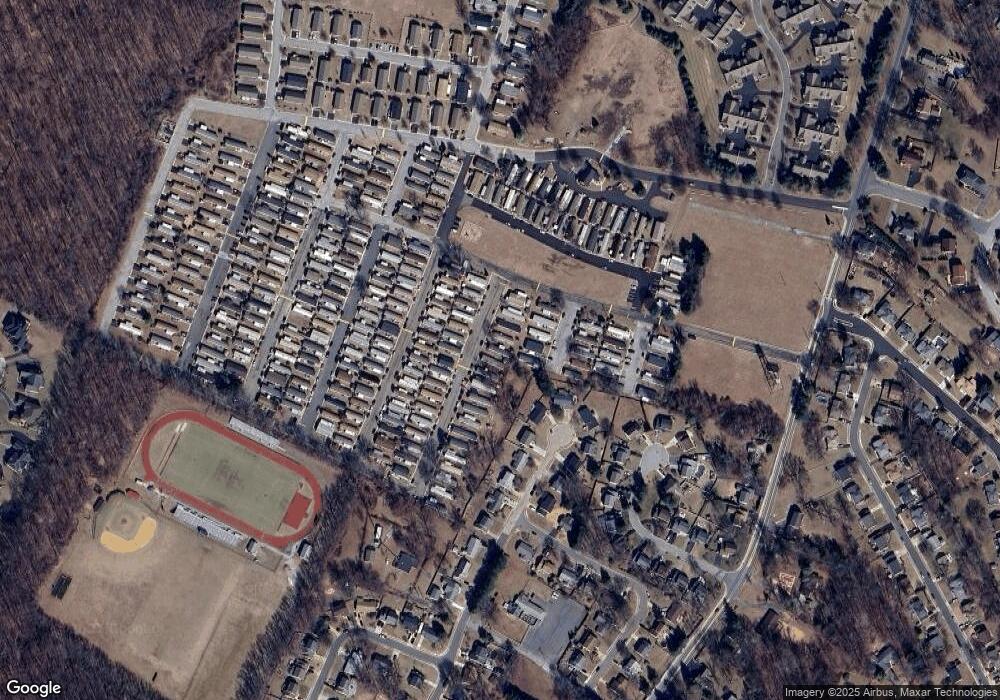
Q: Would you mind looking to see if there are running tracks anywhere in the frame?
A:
Yes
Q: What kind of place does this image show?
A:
residential area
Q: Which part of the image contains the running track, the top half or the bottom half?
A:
bottom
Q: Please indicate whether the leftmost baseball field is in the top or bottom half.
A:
bottom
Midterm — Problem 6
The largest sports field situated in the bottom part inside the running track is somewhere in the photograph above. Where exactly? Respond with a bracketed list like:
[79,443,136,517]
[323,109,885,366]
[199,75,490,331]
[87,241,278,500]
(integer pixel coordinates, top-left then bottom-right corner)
[158,419,304,531]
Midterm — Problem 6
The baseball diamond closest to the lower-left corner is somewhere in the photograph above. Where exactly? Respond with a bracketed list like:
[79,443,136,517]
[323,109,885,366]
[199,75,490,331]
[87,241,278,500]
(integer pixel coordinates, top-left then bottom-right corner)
[96,491,157,552]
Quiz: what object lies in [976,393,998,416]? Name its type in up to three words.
house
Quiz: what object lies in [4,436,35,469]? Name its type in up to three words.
house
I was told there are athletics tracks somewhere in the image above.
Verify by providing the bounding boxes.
[142,410,322,543]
